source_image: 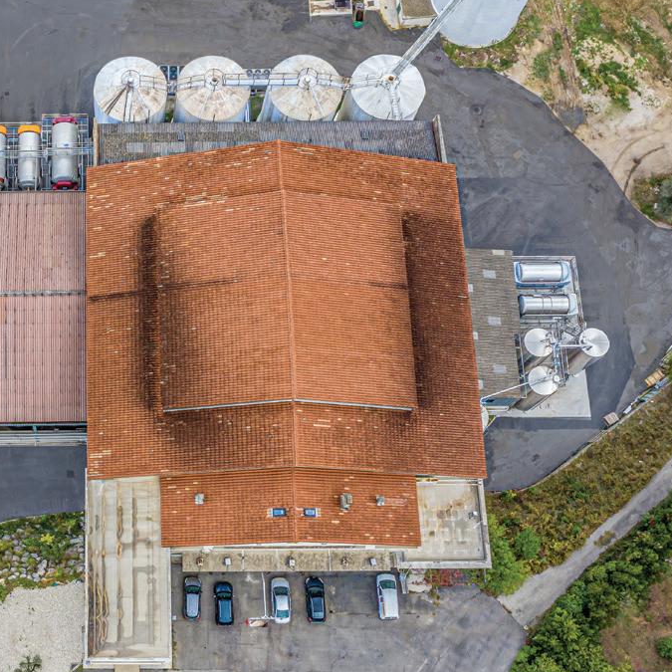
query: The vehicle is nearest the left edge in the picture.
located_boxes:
[181,577,202,621]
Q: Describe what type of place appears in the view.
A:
industrial area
